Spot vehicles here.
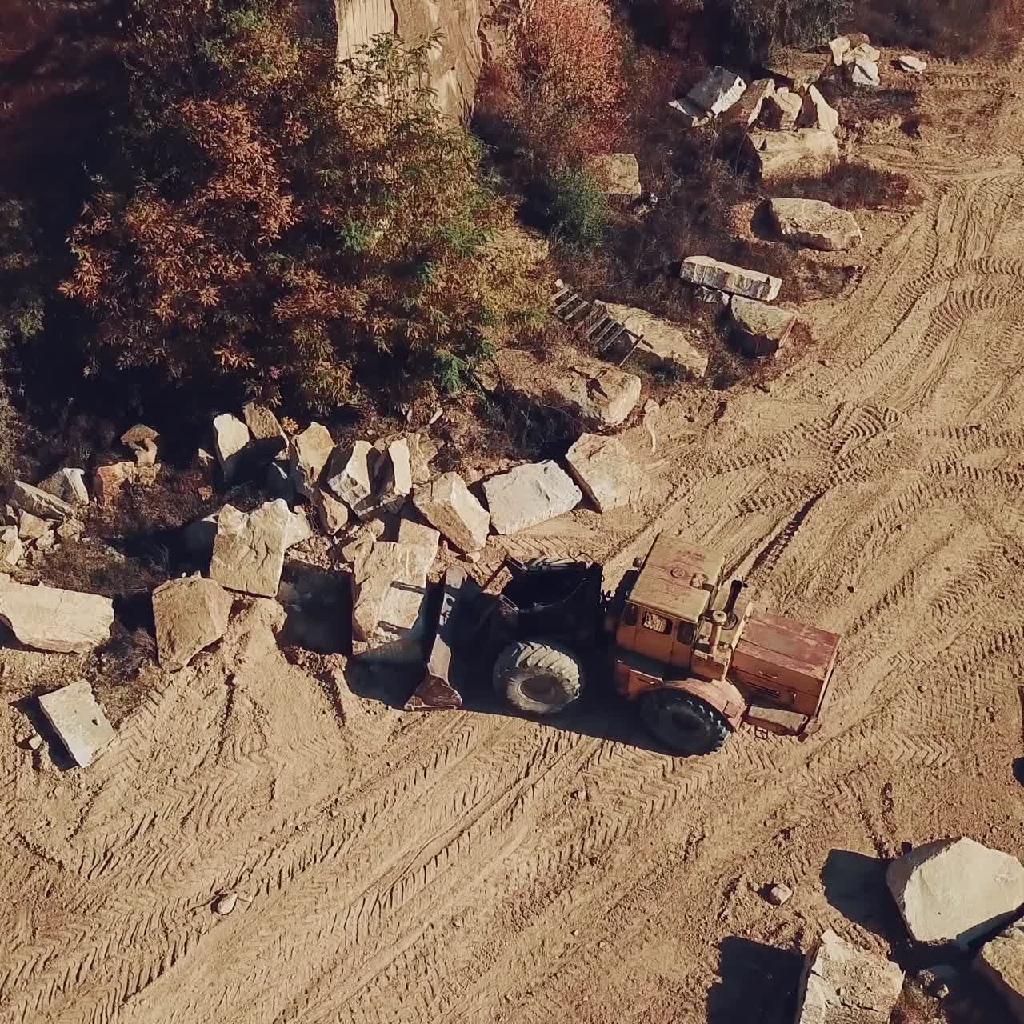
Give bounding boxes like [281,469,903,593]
[399,535,841,759]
